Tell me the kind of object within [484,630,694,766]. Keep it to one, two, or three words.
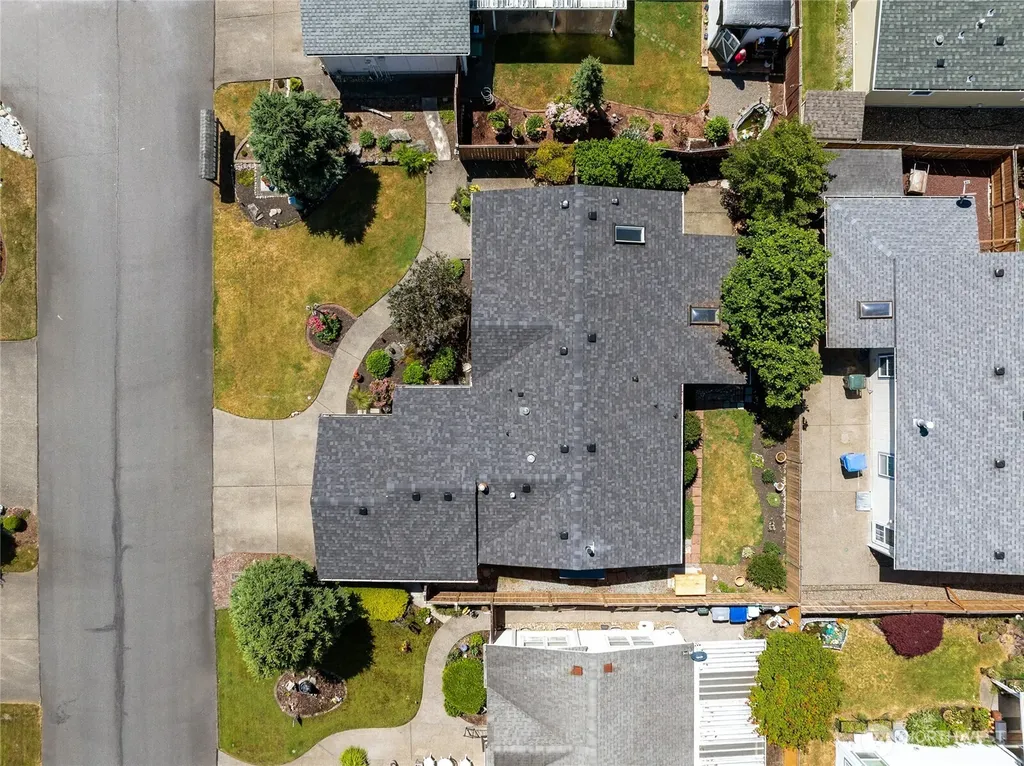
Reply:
house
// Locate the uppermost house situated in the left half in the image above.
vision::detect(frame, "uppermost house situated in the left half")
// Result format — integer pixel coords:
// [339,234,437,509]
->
[300,0,470,75]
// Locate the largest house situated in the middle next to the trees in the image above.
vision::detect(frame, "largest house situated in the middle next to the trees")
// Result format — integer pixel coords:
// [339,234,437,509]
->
[311,184,750,584]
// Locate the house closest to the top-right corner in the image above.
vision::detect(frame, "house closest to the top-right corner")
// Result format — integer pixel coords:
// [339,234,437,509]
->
[853,0,1024,107]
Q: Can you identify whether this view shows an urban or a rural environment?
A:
urban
